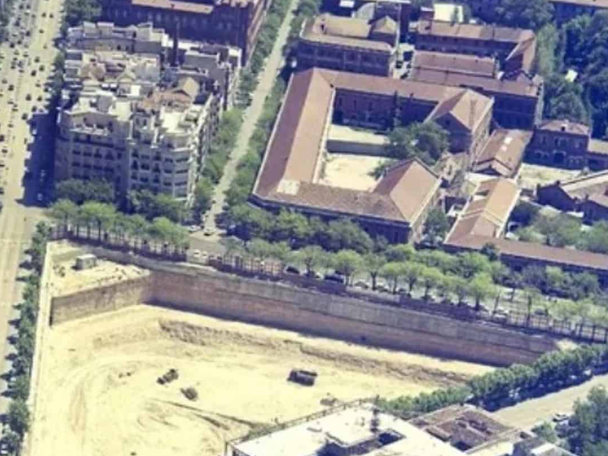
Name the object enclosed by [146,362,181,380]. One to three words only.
work vehicle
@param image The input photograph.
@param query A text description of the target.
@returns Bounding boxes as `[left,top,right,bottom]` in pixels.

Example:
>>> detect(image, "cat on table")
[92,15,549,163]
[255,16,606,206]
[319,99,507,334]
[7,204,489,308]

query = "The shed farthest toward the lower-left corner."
[74,252,99,269]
